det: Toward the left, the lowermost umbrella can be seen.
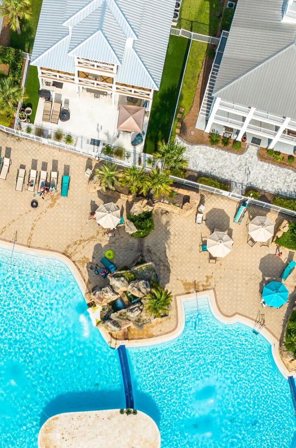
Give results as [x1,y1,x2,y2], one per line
[95,202,122,230]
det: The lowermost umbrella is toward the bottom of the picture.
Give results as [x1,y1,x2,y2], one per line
[262,281,288,309]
